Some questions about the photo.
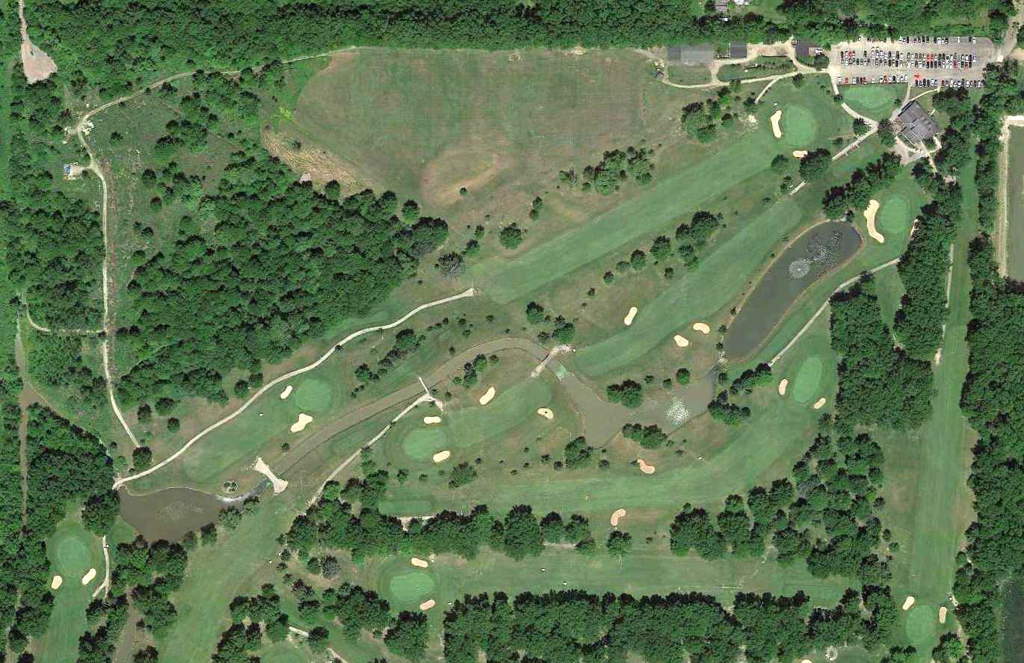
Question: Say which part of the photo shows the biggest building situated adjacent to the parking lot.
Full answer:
The biggest building situated adjacent to the parking lot sits in the top right section of the image.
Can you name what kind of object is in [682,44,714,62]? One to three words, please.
barn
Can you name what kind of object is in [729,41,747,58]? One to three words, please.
building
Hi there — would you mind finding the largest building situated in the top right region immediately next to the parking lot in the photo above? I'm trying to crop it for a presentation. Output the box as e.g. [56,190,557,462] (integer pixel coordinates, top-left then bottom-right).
[899,100,941,141]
